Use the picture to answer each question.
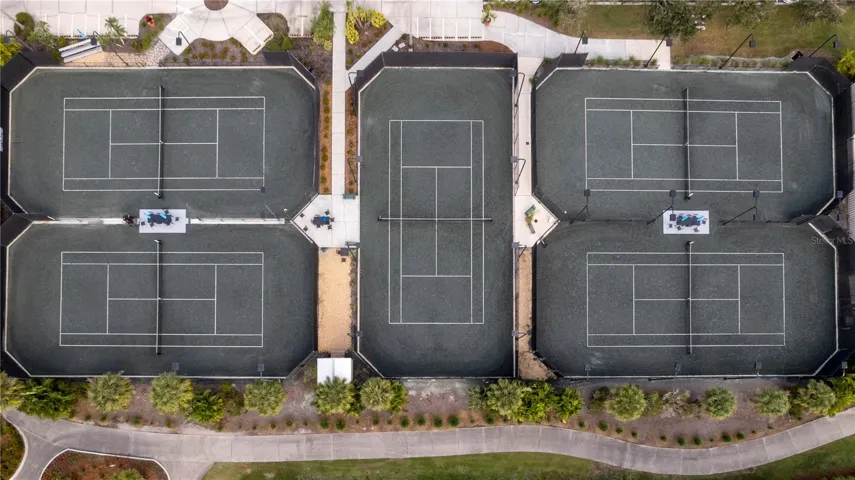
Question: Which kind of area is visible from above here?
sports ground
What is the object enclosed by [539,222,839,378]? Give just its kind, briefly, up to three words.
tennis court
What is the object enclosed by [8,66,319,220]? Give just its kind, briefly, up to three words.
tennis court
